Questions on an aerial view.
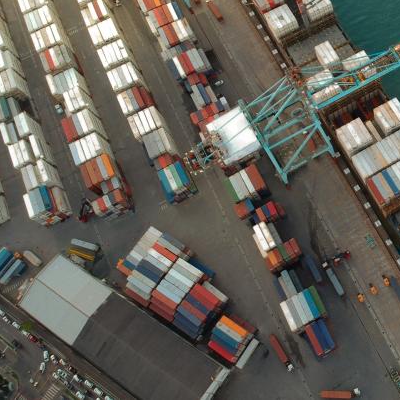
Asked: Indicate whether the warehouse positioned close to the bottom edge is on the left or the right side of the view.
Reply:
left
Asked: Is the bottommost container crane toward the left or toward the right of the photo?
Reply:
right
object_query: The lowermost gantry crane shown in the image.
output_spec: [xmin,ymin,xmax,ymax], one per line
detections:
[177,44,400,188]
